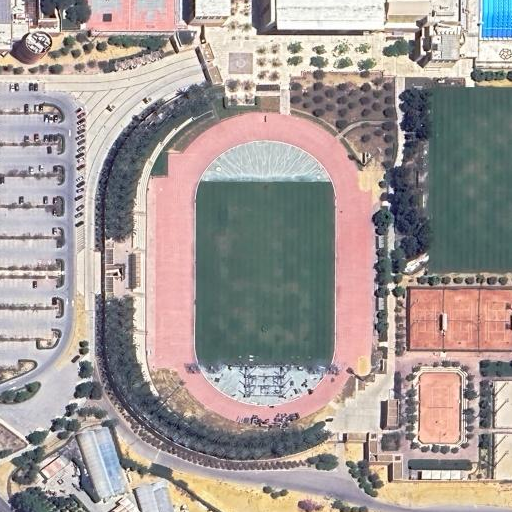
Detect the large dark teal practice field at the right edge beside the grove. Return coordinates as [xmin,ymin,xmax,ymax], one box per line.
[428,88,512,272]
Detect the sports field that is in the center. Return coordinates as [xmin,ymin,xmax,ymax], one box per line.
[196,182,334,364]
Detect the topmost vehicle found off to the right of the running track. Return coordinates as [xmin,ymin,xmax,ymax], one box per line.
[404,257,428,273]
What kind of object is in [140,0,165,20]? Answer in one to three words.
basketball court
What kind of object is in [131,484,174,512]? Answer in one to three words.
building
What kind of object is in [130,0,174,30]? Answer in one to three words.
basketball court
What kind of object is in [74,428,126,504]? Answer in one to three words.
building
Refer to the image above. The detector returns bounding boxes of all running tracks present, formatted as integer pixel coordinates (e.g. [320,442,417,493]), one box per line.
[147,112,372,424]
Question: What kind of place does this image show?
sports ground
